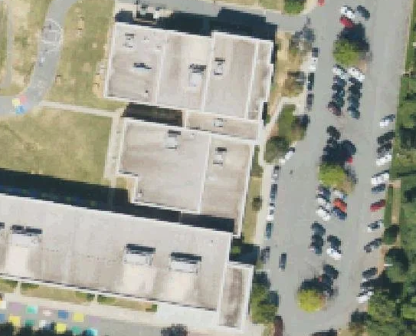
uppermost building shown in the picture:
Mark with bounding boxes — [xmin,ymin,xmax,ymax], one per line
[103,22,275,131]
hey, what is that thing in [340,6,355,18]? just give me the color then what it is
white vehicle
